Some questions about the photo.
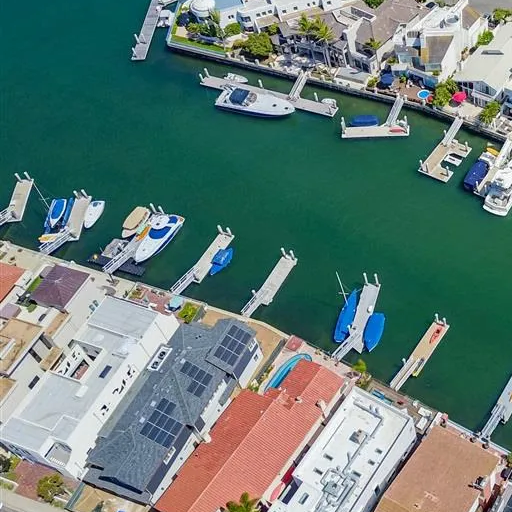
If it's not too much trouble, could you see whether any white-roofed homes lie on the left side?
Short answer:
Yes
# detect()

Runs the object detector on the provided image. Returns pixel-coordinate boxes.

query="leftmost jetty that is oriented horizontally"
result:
[199,68,337,119]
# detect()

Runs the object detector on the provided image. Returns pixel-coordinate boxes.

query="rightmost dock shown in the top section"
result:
[473,132,512,199]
